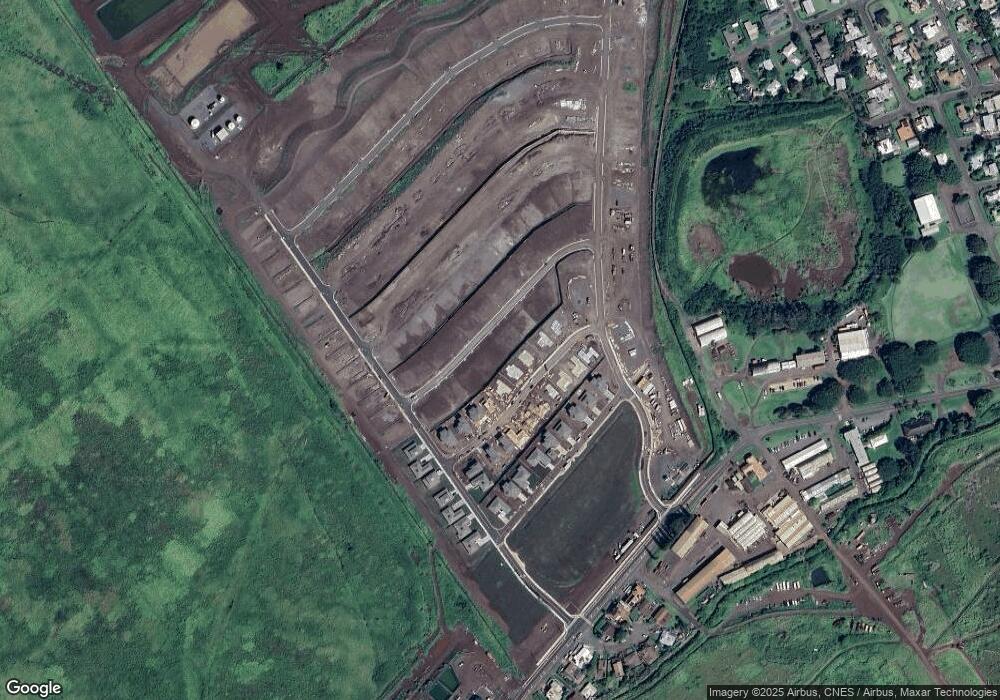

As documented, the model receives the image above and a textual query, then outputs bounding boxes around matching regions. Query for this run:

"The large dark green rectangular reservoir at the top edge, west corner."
[100,0,177,39]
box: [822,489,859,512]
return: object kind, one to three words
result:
shed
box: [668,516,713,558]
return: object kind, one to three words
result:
shed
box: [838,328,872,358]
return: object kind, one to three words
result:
building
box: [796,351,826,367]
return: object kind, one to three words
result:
building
